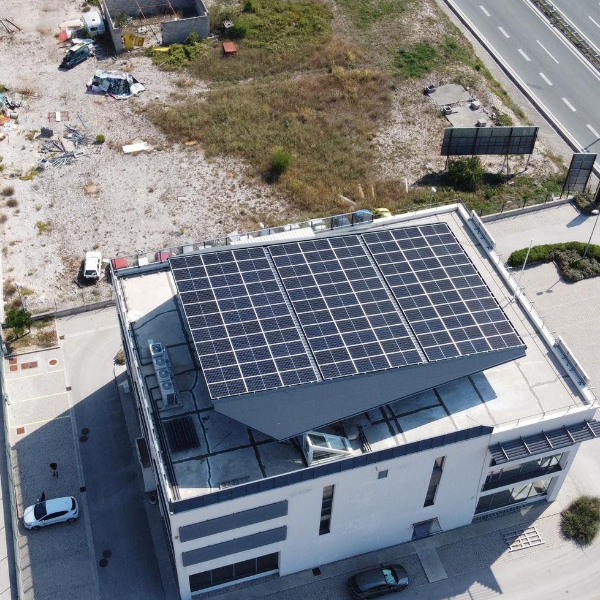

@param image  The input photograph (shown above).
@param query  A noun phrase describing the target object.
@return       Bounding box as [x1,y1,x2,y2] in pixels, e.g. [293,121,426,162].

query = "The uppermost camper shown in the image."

[80,10,108,37]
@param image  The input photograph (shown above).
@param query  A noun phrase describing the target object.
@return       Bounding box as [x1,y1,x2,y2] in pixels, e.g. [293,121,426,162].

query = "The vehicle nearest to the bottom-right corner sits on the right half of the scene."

[346,562,411,600]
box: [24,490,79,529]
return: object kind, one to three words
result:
car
